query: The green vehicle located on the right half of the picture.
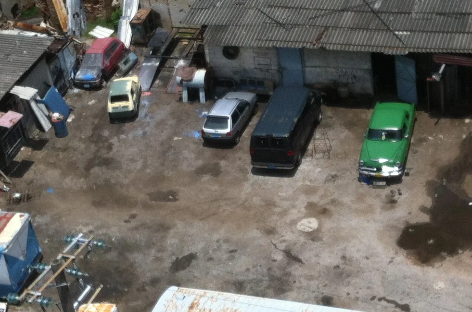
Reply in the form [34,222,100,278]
[360,104,417,177]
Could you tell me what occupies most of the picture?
paved ground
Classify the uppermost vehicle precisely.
automobile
